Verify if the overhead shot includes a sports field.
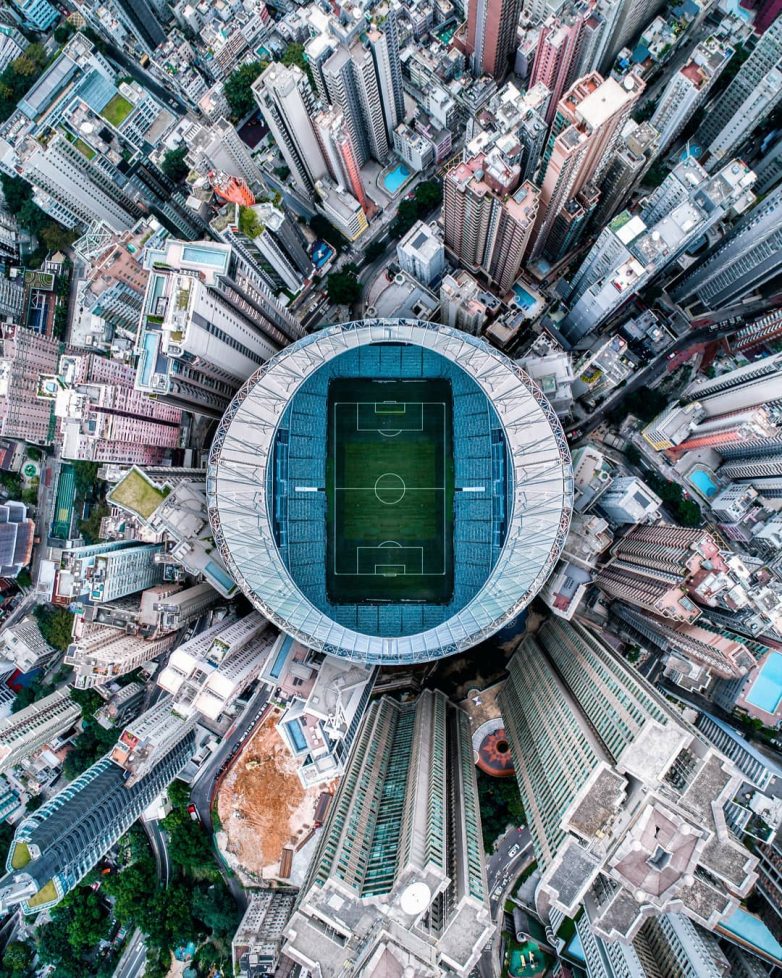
Yes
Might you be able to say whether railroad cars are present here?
No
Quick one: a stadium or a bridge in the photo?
stadium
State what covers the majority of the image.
buildings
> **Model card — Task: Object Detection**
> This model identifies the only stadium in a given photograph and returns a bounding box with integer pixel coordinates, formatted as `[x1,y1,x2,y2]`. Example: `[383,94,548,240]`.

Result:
[206,318,572,666]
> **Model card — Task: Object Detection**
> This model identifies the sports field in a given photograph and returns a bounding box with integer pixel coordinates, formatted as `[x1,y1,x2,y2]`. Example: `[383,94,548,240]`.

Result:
[328,373,455,603]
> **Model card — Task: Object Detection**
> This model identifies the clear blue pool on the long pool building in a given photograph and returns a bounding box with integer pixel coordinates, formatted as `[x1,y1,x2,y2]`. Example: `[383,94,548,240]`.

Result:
[268,636,293,679]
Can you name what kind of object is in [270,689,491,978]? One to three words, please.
building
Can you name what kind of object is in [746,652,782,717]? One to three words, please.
swimming pool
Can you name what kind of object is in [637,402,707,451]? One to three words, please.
building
